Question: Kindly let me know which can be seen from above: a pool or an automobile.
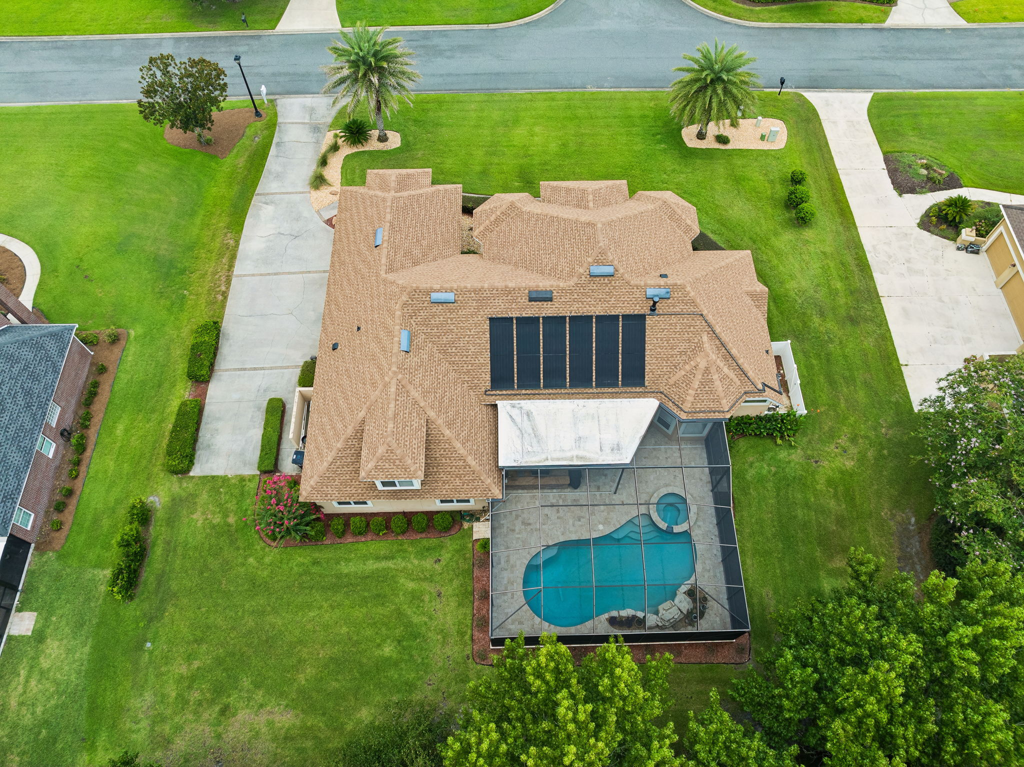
pool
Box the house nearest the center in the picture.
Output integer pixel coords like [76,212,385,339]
[298,169,787,517]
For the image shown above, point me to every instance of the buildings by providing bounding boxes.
[0,274,96,543]
[979,202,1024,395]
[298,169,787,517]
